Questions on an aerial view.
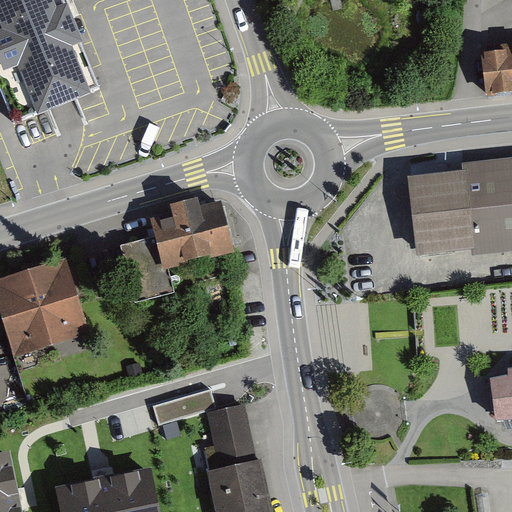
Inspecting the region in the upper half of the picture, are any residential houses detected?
Yes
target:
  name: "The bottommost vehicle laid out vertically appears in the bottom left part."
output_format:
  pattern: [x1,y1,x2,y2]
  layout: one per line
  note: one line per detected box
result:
[109,416,122,440]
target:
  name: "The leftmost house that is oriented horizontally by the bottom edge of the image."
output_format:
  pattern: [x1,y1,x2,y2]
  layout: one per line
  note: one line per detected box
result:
[55,467,160,512]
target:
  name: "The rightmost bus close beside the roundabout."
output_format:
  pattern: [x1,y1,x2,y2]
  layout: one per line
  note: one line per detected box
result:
[289,205,311,268]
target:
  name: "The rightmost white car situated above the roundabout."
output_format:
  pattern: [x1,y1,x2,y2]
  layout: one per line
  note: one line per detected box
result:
[232,7,248,30]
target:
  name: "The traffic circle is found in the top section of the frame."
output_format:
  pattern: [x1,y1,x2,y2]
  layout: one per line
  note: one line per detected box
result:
[232,106,346,220]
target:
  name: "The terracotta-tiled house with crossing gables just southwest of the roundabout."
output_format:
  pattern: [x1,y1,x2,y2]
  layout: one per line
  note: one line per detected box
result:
[150,198,234,269]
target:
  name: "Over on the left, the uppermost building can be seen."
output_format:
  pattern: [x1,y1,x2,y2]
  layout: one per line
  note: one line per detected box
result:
[0,0,99,136]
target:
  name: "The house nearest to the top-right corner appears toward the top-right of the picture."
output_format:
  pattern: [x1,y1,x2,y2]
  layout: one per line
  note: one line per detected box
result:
[482,44,512,96]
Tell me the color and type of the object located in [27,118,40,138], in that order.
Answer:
white vehicle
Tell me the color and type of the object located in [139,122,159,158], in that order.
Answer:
white vehicle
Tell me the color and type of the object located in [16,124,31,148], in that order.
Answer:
white car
